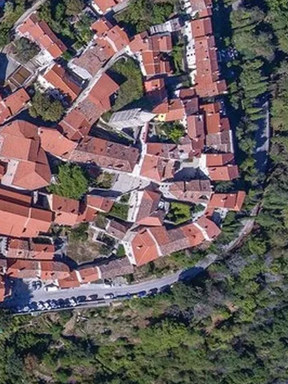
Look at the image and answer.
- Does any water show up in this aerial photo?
No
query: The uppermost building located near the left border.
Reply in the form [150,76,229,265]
[11,15,67,62]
